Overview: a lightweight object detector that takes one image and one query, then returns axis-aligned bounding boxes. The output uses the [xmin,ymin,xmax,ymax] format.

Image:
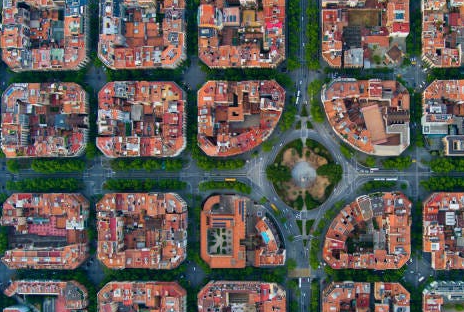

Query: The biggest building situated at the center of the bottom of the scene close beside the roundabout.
[202,194,247,267]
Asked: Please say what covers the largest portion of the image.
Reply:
buildings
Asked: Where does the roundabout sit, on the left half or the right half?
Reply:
right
